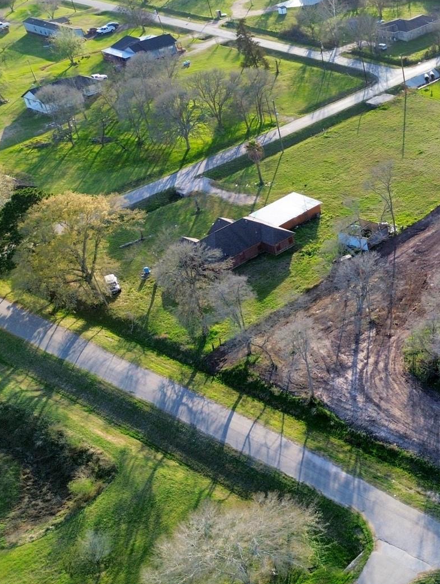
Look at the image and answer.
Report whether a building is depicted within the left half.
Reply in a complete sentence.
Yes, I can see a building within the left half.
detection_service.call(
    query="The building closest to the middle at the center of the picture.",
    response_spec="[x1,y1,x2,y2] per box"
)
[171,191,325,278]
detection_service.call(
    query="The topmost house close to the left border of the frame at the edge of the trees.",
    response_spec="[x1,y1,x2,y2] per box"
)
[21,17,96,37]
